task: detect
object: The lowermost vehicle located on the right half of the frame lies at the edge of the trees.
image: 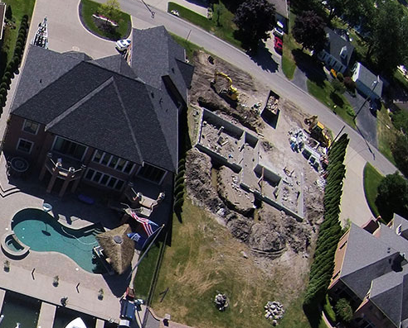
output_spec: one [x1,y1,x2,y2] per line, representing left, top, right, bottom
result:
[308,115,343,146]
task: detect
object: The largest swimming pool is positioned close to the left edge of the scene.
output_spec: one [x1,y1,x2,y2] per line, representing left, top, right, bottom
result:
[9,206,107,275]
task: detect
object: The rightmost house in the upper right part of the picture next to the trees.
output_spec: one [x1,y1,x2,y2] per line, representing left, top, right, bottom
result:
[352,61,383,102]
